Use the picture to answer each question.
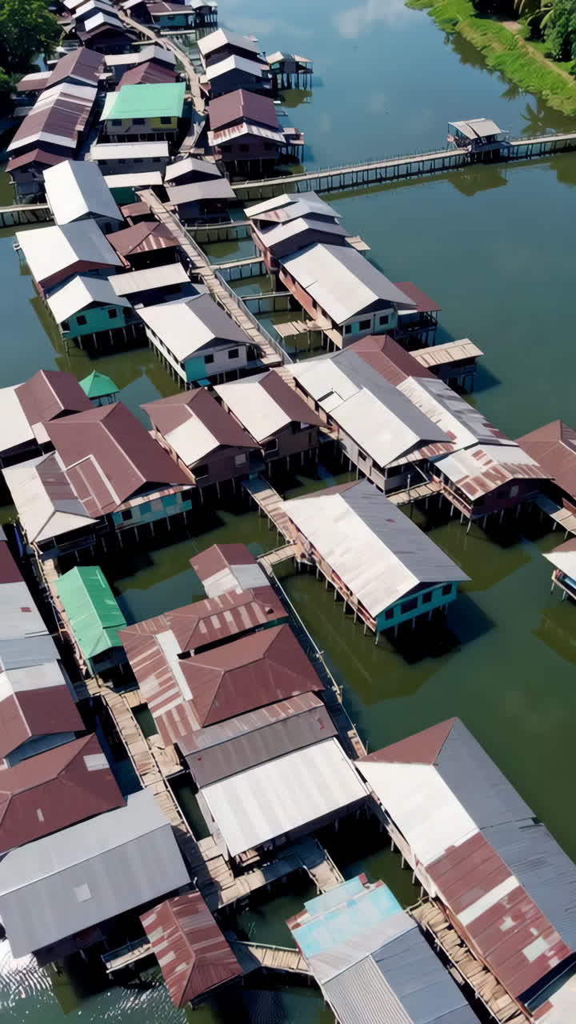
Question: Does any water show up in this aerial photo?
Yes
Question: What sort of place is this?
residential area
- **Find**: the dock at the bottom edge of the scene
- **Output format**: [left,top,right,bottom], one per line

[98,933,159,982]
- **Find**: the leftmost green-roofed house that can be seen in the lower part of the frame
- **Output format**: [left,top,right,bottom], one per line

[54,565,128,677]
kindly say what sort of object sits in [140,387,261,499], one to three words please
house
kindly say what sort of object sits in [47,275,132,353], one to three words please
house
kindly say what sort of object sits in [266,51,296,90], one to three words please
shed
